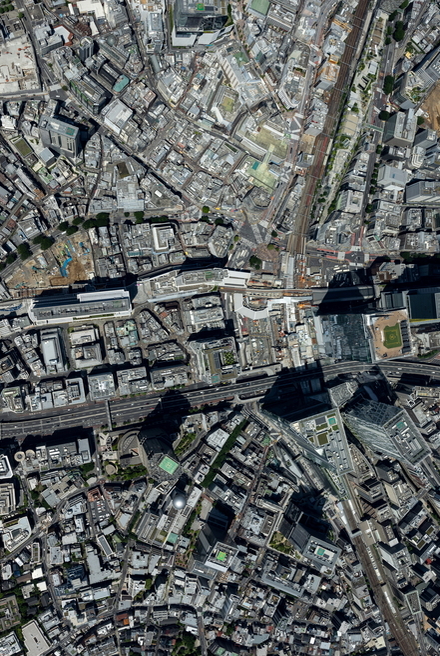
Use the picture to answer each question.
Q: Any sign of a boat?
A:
No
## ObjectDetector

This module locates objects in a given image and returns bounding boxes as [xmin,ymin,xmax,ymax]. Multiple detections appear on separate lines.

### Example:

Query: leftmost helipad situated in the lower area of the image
[159,456,178,473]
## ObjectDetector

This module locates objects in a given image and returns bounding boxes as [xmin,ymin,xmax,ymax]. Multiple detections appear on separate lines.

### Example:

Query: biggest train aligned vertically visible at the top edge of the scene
[334,19,357,99]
